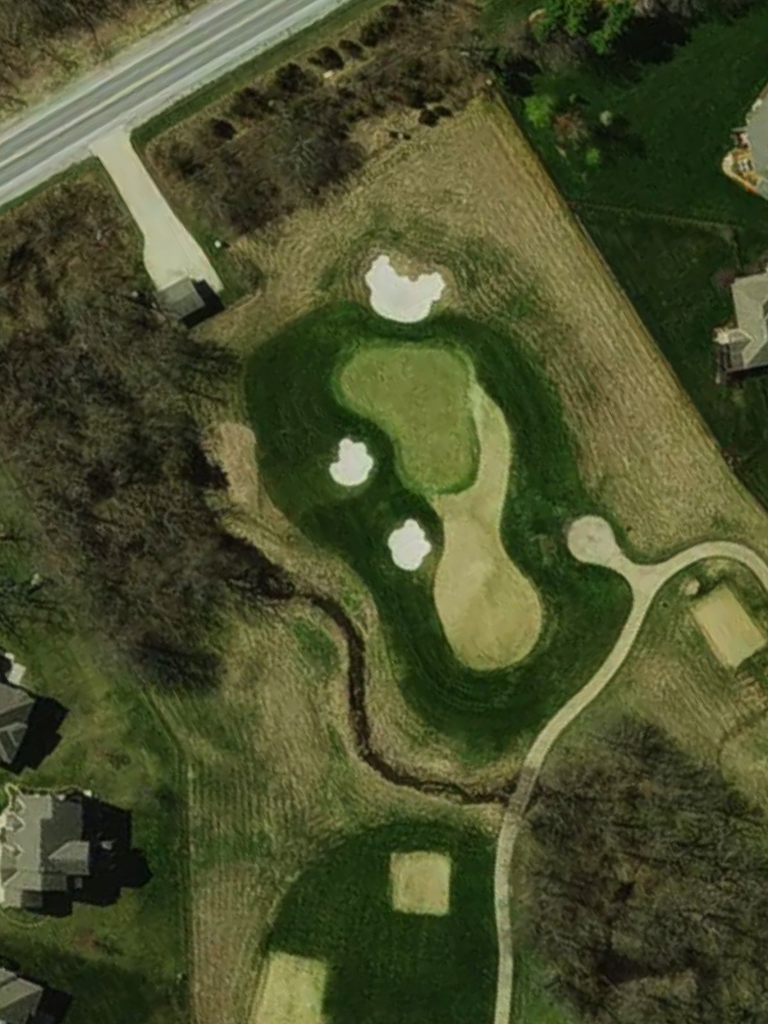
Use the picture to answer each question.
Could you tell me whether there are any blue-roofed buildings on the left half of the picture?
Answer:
No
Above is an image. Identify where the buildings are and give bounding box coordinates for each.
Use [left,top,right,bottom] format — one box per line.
[157,277,203,322]
[723,277,768,375]
[0,794,109,908]
[734,82,768,199]
[0,960,43,1024]
[0,684,34,763]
